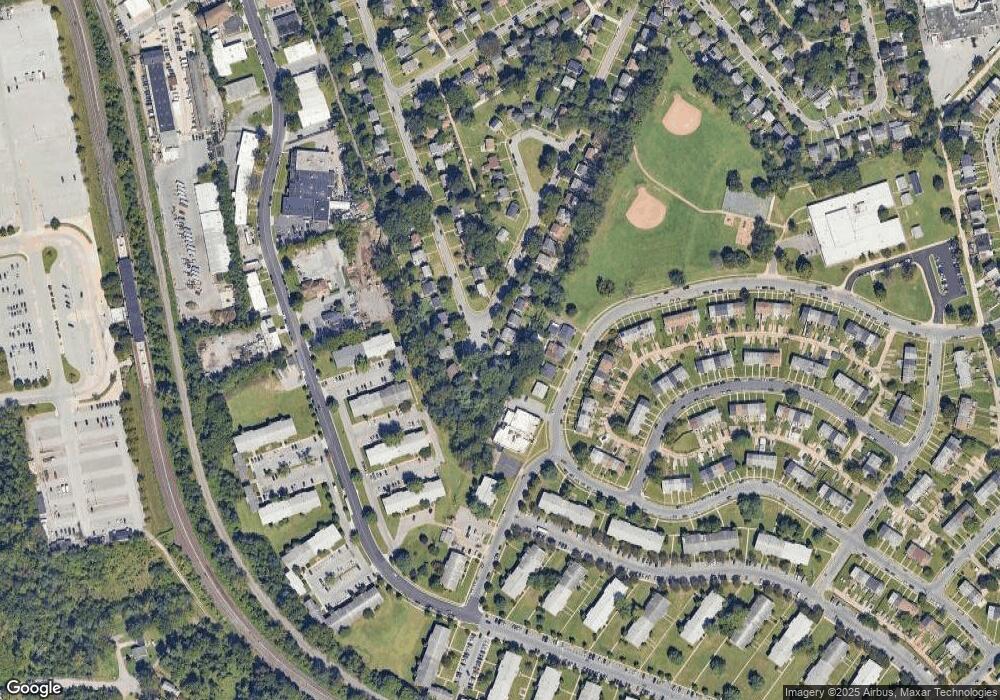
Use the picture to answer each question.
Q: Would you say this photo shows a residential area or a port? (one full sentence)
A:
It's a residential area.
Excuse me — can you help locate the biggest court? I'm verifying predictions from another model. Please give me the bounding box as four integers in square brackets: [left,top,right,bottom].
[724,187,773,218]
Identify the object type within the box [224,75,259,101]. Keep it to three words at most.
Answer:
building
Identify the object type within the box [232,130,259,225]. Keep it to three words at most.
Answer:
building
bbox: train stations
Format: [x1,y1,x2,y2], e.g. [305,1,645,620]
[109,235,150,387]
